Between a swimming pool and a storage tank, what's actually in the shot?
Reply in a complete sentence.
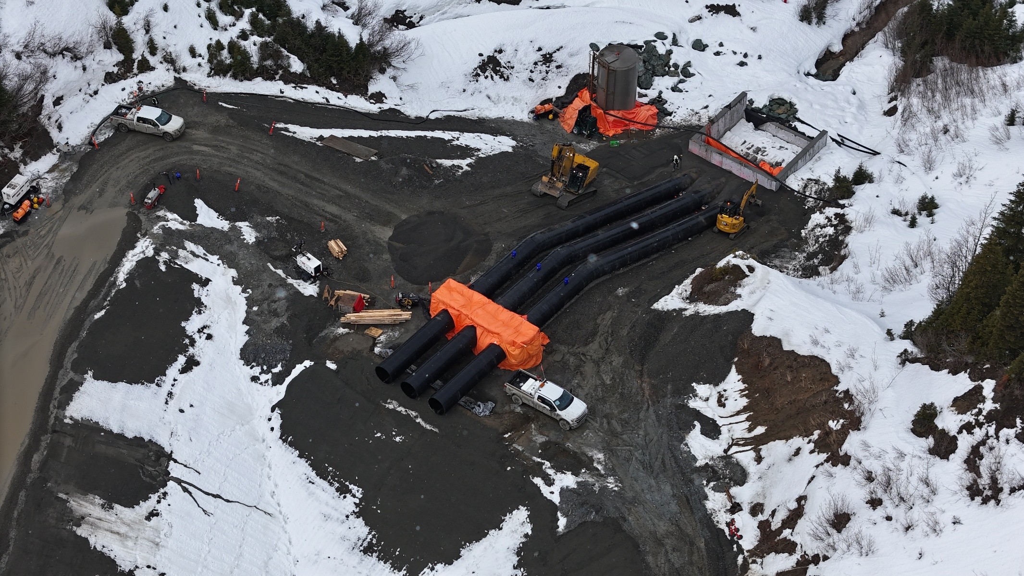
Looking from above, you can make out a storage tank.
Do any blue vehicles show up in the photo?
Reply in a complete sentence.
No, I find no blue vehicle anywhere in the image.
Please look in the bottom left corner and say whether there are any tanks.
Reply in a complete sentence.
No, no tank appears in the bottom left corner.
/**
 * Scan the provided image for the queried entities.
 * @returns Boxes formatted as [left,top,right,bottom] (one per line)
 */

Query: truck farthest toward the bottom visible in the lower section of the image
[503,358,595,431]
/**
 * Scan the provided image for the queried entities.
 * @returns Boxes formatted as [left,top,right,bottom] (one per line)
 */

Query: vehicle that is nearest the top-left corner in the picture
[106,86,190,141]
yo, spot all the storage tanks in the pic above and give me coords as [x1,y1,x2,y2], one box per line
[585,42,642,111]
